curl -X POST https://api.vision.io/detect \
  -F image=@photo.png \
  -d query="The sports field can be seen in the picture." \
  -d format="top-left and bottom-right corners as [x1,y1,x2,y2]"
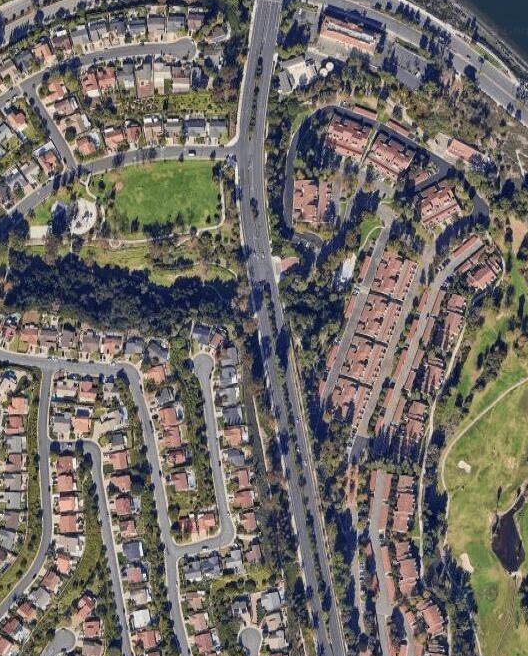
[109,160,218,228]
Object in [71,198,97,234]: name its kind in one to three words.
playground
